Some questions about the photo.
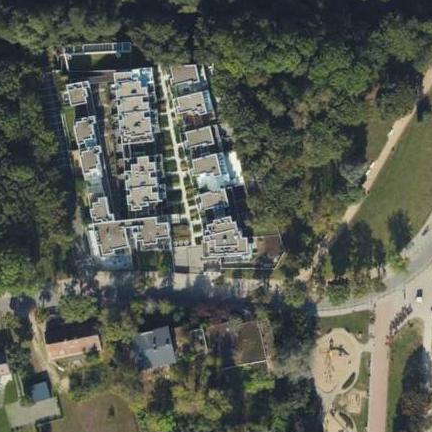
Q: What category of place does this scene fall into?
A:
residential area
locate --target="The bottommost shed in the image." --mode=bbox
[32,381,53,402]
